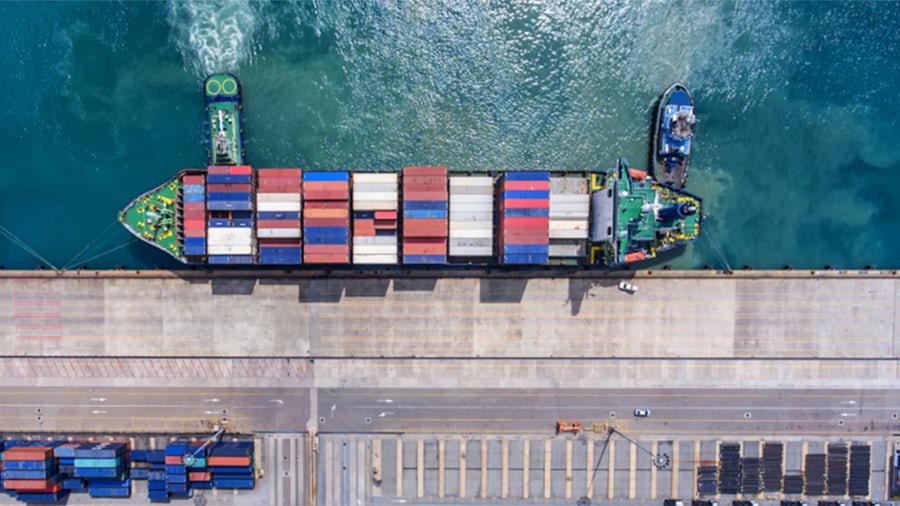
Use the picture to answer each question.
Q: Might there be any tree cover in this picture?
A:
No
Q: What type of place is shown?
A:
port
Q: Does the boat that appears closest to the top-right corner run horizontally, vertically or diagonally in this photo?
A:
vertically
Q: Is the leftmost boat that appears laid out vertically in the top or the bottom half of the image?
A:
top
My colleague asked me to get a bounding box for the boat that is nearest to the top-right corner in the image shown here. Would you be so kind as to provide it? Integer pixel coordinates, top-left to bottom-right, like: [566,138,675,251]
[653,83,695,189]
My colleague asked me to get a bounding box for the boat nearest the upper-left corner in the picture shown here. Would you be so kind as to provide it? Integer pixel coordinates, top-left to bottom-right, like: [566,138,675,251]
[204,74,242,166]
